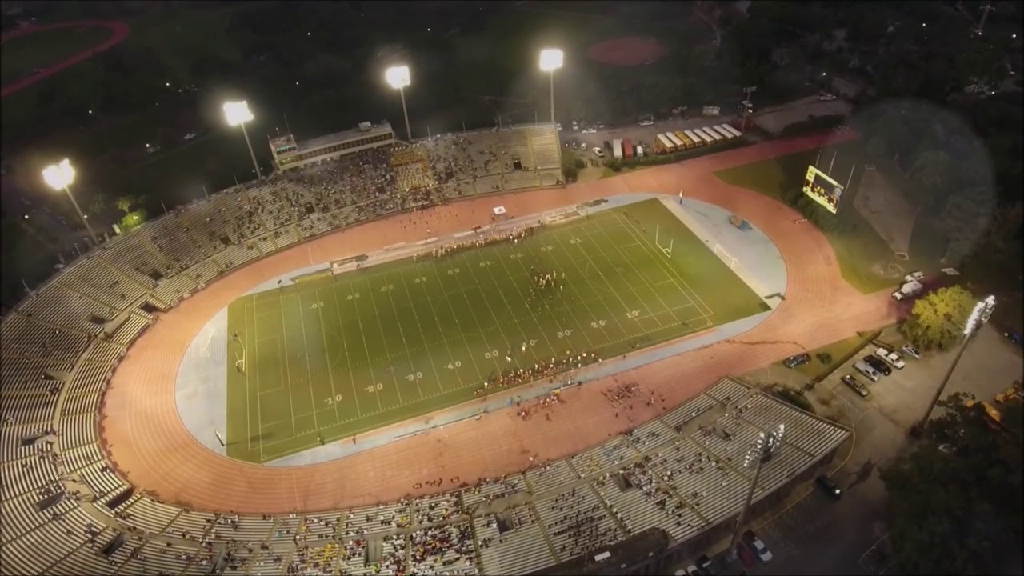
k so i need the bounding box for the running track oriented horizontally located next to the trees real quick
[97,126,960,523]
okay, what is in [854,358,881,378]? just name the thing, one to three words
vehicle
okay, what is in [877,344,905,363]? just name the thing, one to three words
vehicle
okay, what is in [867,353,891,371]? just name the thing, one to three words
car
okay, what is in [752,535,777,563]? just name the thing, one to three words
car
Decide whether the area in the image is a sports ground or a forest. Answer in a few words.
sports ground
